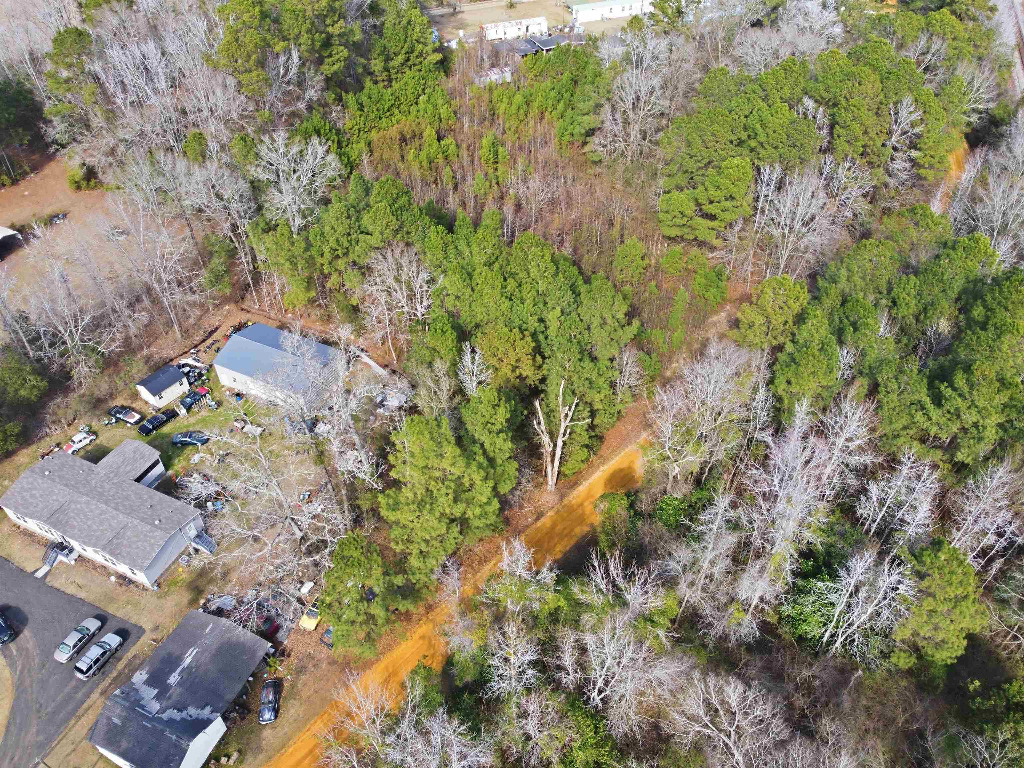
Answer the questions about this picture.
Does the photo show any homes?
Yes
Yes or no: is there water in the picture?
No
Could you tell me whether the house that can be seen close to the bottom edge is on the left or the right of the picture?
left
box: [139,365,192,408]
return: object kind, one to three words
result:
shed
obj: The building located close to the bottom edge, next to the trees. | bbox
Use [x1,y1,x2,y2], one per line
[88,607,270,768]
